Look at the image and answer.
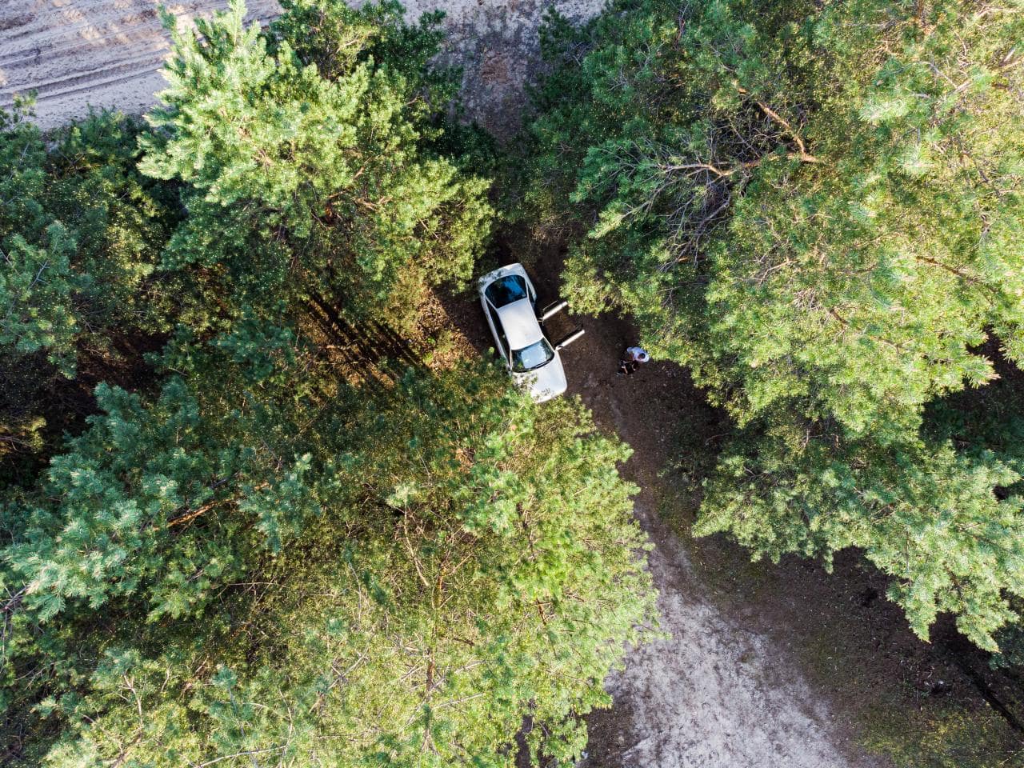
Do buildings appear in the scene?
No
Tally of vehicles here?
1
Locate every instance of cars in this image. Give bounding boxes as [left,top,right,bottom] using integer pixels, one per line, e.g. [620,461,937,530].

[478,265,583,403]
